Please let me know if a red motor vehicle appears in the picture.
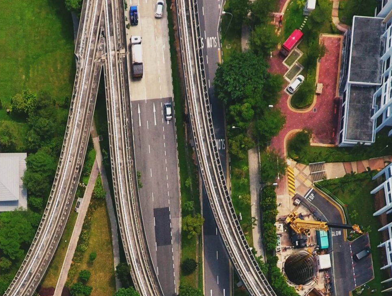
Yes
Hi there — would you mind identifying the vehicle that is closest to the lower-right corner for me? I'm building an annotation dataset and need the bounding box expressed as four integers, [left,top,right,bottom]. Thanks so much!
[351,246,374,262]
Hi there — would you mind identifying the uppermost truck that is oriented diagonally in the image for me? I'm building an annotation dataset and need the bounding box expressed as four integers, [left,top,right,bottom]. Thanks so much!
[278,20,309,58]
